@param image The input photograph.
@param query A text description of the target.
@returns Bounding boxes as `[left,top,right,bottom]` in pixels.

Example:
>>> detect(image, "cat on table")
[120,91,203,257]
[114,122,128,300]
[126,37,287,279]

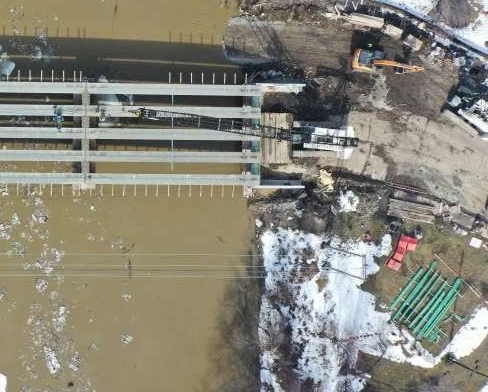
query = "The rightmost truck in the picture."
[449,89,488,138]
